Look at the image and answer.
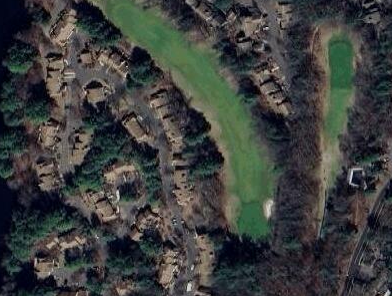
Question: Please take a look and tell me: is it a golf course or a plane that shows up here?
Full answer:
I can see a golf course in this picture.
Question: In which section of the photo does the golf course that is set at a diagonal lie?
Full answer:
The golf course that is set at a diagonal is in the center part of the image.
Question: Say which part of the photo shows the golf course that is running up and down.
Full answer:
The golf course that is running up and down appears toward the right of the photo.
